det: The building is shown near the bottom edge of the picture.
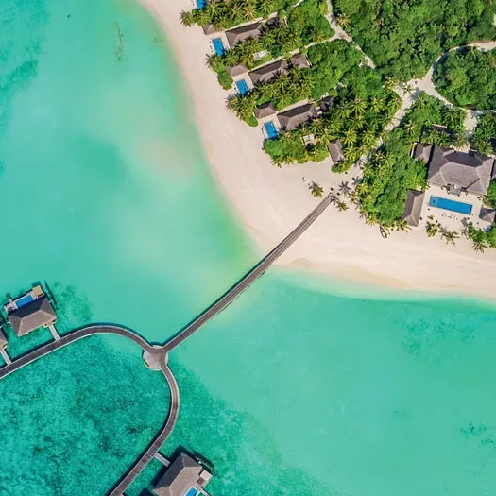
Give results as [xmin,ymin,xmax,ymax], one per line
[152,452,210,496]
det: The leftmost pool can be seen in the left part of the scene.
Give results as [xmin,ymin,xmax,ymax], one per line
[14,296,35,311]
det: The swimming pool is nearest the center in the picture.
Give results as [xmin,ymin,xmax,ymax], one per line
[264,121,278,140]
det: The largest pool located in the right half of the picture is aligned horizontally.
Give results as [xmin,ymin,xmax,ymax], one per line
[427,195,473,216]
